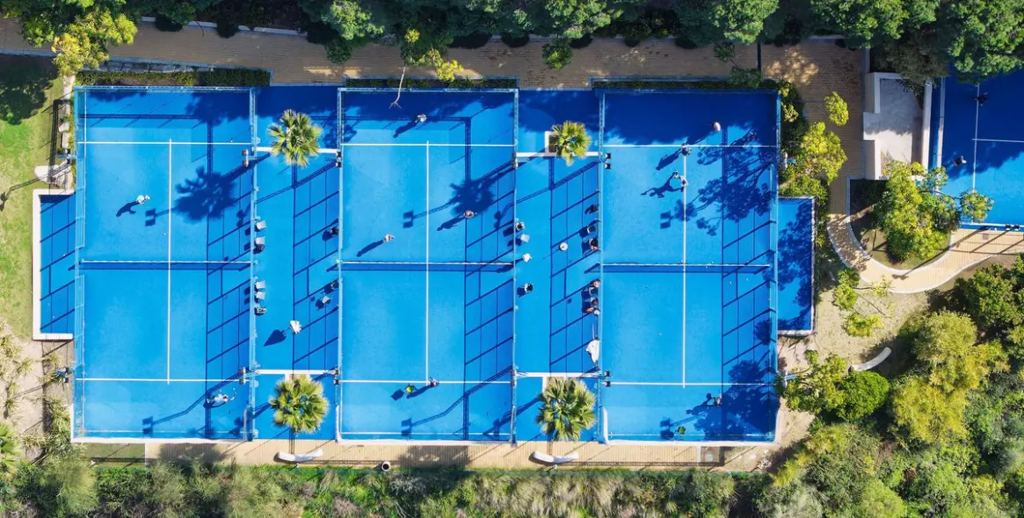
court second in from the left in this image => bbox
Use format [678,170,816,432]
[334,86,520,446]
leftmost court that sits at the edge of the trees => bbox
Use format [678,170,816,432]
[68,84,262,445]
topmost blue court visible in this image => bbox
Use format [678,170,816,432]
[928,46,1024,228]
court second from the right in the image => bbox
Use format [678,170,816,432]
[591,87,784,448]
